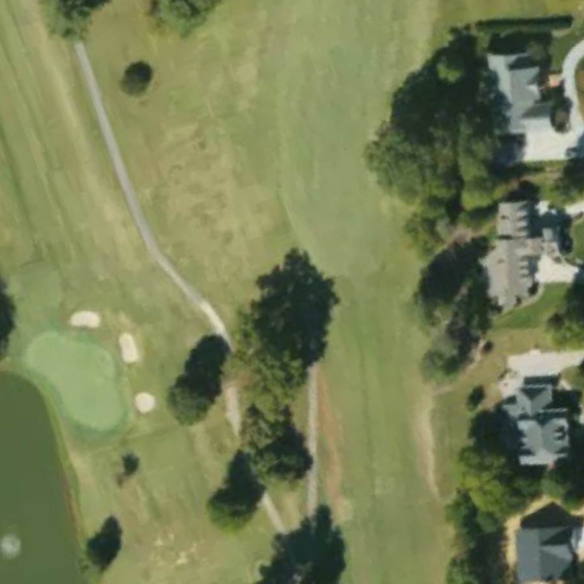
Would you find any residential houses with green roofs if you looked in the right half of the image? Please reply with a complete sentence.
No, there's no residential house with a green roof to be seen in the right half of the image.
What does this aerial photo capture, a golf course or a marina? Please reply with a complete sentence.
The area seen from above is a golf course.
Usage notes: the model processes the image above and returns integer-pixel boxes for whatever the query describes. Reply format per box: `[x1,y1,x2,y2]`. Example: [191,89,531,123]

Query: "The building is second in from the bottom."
[504,385,572,467]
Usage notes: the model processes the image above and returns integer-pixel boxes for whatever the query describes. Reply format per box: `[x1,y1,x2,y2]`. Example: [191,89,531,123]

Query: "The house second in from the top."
[486,200,557,313]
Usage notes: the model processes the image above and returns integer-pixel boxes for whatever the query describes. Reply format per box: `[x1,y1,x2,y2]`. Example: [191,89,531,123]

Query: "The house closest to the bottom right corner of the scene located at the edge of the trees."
[516,527,583,584]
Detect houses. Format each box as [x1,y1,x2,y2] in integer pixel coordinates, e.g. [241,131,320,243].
[516,527,583,584]
[486,200,557,313]
[504,385,572,467]
[486,54,554,135]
